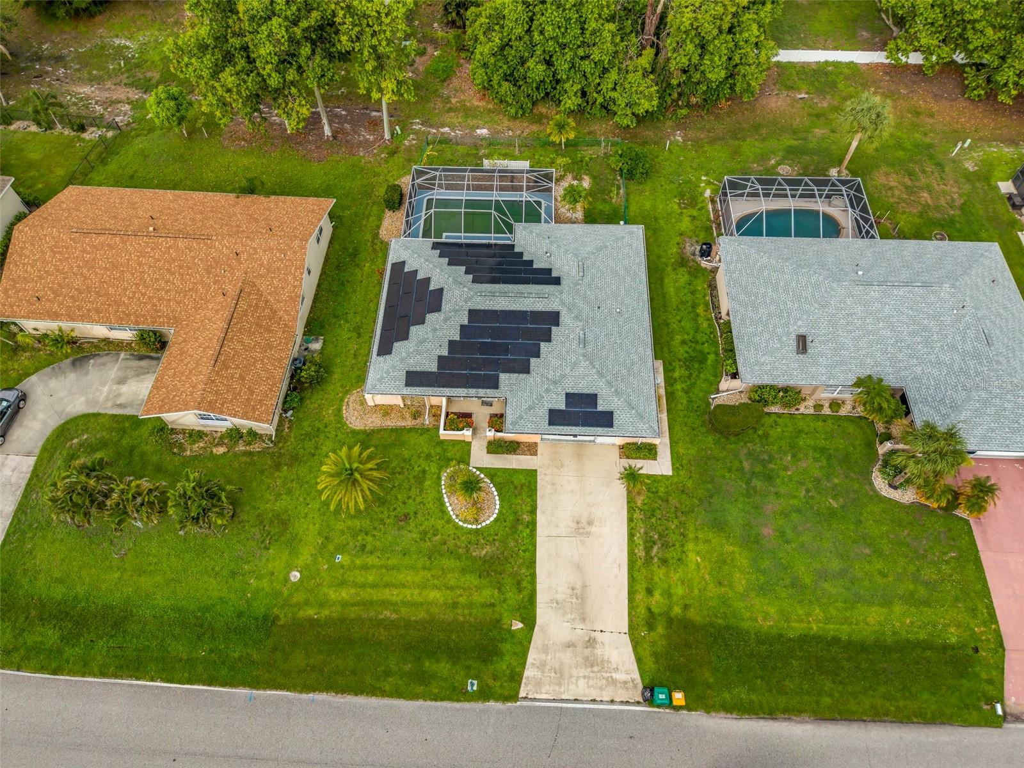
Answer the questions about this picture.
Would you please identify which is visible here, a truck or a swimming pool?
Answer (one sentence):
Looking from above, you can make out a swimming pool.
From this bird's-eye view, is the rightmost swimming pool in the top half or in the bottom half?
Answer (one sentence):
The rightmost swimming pool sits in the top half of the picture.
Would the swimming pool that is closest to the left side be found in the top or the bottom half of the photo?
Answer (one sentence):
The swimming pool that is closest to the left side sits in the top half of the picture.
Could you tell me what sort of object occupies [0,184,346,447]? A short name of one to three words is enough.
house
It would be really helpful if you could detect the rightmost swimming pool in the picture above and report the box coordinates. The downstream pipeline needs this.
[731,201,856,239]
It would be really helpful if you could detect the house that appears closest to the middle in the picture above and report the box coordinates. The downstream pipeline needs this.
[362,222,663,446]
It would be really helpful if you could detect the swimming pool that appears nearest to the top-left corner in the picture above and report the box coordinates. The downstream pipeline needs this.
[412,190,552,242]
